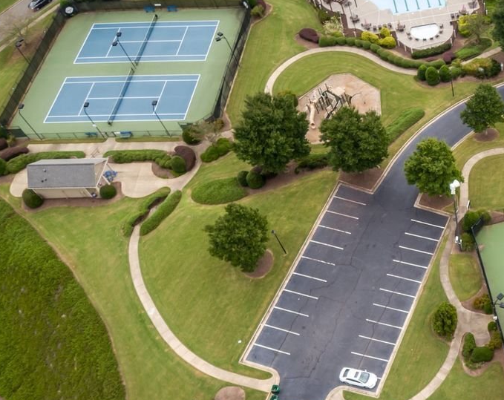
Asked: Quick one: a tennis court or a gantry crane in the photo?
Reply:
tennis court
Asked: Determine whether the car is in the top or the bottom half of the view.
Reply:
bottom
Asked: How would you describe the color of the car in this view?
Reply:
white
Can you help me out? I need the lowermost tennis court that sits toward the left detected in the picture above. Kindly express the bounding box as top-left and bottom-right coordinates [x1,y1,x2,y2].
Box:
[14,57,223,126]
